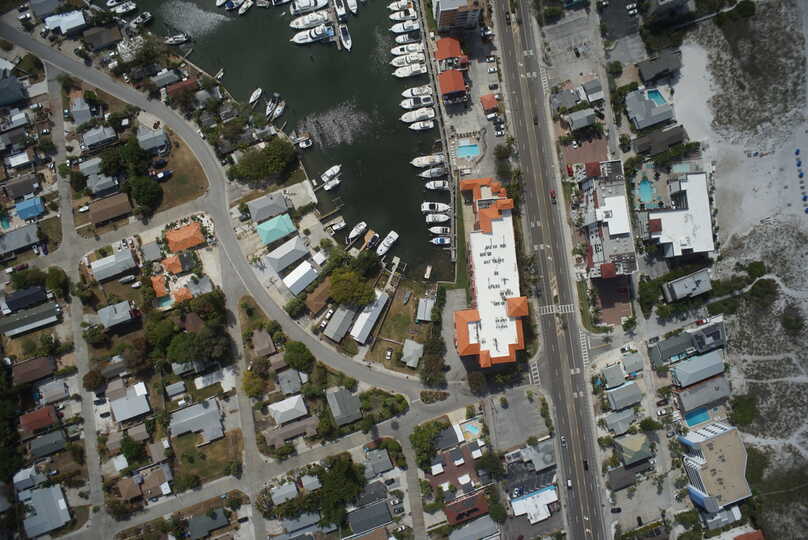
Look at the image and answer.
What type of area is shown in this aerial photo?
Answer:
residential area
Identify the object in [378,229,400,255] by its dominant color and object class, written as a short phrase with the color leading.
white boat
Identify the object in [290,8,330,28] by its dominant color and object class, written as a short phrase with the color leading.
white boat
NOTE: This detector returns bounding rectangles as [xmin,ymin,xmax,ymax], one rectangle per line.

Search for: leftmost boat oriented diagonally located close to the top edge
[128,11,155,31]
